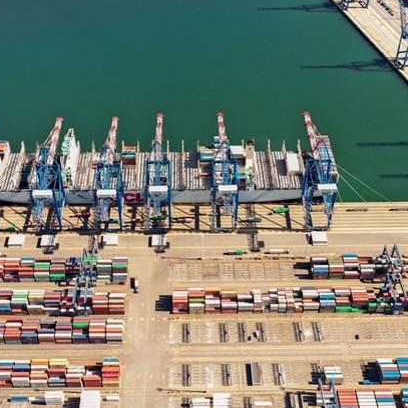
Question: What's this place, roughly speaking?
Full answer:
It's a port.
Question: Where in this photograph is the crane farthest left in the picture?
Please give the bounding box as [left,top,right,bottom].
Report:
[28,113,69,233]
